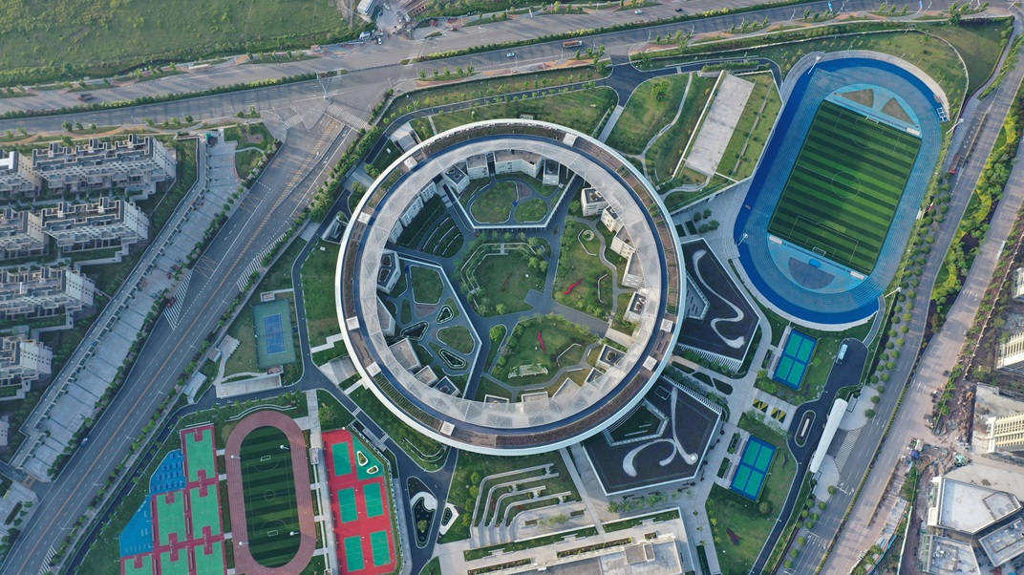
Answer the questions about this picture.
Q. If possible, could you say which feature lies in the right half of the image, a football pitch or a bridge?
football pitch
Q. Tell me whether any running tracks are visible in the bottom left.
Yes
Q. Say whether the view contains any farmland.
No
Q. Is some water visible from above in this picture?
No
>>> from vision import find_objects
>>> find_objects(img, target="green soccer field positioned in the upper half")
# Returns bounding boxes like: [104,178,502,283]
[765,97,924,278]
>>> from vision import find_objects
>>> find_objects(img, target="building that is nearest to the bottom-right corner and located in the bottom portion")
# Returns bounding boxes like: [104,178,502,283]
[969,518,1024,566]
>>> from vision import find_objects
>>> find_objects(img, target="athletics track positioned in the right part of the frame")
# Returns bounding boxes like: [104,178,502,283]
[729,50,950,331]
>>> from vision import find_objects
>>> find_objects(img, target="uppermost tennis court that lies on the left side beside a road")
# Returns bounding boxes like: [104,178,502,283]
[255,299,296,368]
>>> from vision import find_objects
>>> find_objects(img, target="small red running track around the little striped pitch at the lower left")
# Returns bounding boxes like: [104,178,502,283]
[223,409,318,575]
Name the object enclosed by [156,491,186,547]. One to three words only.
basketball court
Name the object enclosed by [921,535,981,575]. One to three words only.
house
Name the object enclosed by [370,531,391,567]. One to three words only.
sports court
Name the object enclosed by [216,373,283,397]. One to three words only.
building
